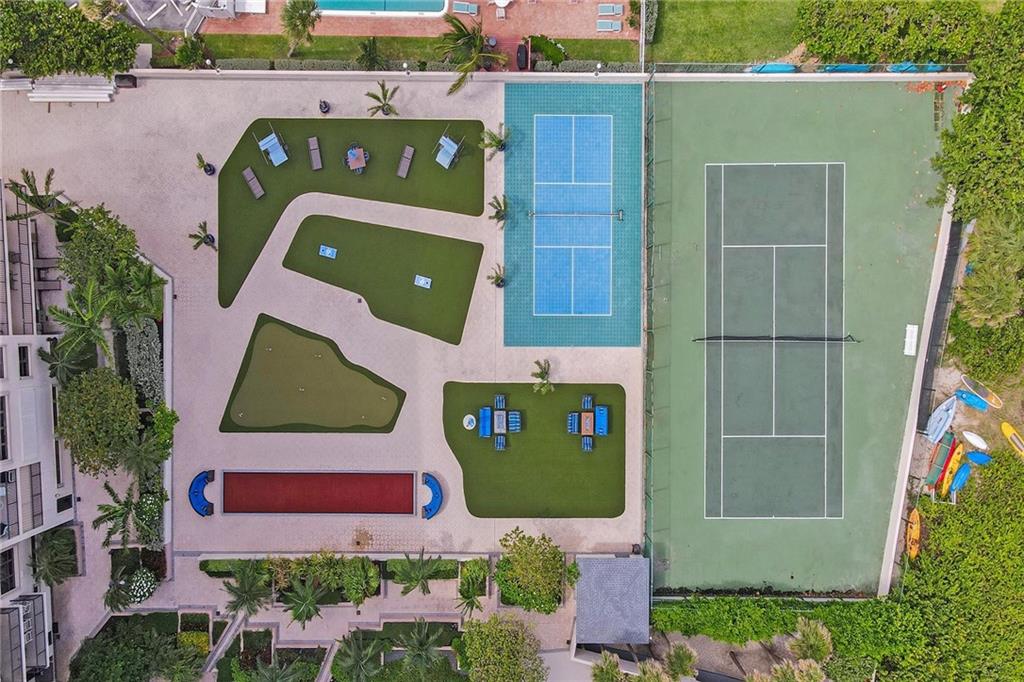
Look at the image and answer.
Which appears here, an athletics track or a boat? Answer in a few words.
boat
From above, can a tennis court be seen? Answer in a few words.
Yes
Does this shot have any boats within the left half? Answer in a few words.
No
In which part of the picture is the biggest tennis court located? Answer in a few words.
right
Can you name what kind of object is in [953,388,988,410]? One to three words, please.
boat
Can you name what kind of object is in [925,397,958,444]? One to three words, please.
boat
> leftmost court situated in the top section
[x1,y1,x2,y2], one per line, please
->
[503,81,643,348]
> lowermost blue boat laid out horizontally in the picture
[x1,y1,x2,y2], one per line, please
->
[965,451,992,464]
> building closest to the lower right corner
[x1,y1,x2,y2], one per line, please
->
[576,550,652,644]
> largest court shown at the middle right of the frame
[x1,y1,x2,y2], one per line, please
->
[651,81,958,594]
